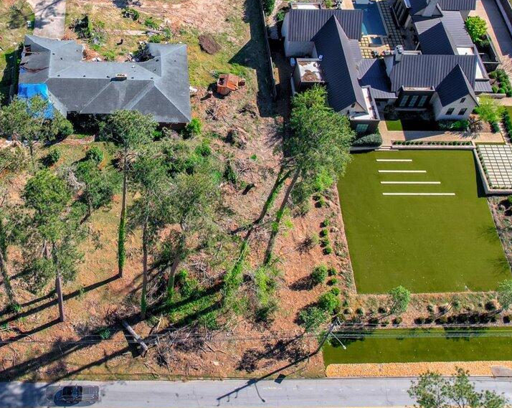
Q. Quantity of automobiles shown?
one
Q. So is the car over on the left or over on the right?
left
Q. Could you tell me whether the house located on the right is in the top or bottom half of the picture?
top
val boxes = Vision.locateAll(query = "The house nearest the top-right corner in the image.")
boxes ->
[278,0,494,135]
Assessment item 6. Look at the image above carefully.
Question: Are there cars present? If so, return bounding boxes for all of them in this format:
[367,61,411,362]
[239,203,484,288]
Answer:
[57,384,97,405]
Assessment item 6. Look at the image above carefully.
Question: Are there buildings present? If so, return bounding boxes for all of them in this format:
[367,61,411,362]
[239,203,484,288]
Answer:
[16,35,190,131]
[278,0,494,135]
